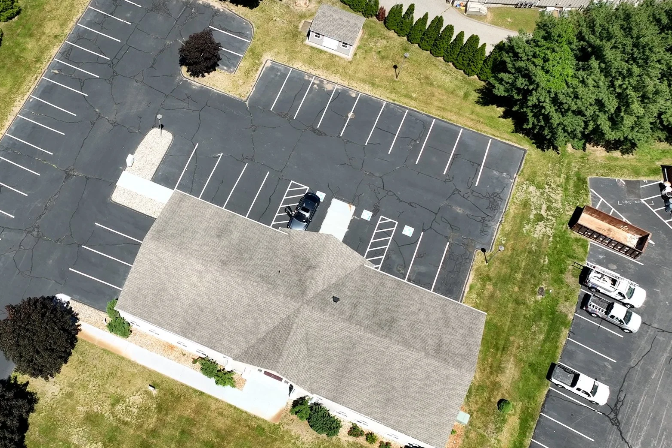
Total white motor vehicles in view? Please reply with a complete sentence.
The photo contains 3 white motor vehicles.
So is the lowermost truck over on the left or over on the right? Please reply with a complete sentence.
The lowermost truck appears in the right half of the scene.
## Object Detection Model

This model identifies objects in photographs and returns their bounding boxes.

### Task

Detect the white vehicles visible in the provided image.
[548,363,610,406]
[583,293,644,334]
[583,265,645,310]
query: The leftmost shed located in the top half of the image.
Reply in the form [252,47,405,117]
[308,2,365,56]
